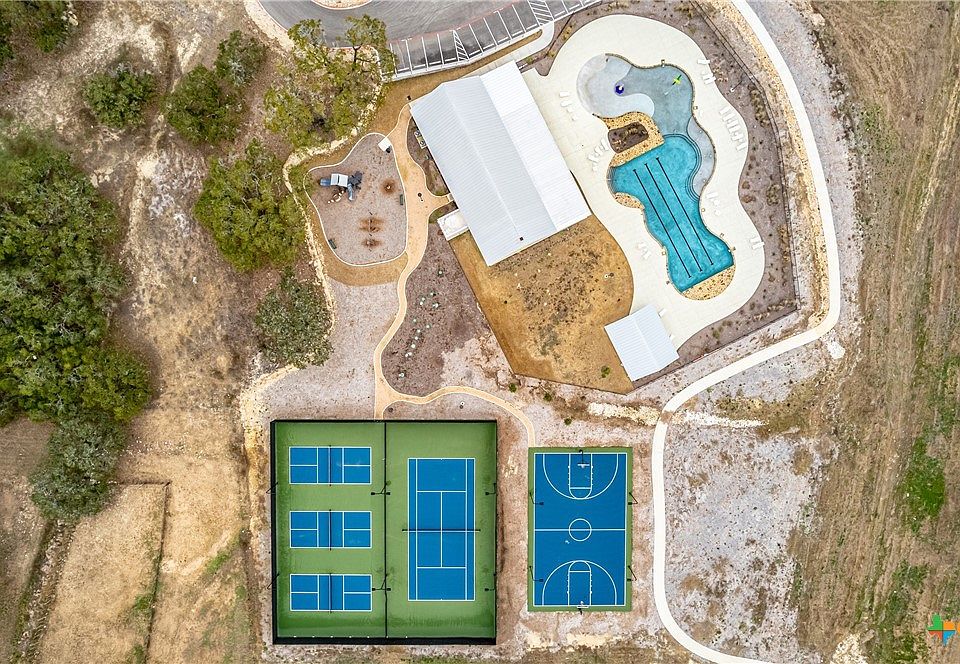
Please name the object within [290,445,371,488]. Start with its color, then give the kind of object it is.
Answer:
blue sports court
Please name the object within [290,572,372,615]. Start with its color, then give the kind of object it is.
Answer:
blue sports court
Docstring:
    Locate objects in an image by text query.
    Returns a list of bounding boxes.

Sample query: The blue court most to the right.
[528,447,632,611]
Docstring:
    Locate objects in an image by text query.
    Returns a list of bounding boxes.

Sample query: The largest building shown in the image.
[408,60,592,266]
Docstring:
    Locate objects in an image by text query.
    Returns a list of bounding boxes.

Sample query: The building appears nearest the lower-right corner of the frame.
[605,305,679,382]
